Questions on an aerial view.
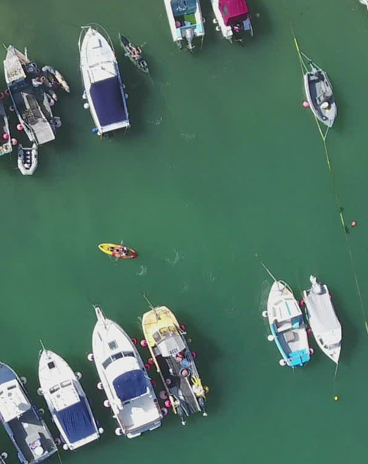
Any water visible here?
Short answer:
Yes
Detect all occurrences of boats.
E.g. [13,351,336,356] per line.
[99,243,139,259]
[37,346,100,449]
[0,361,56,464]
[92,305,164,438]
[210,0,253,45]
[164,0,203,52]
[17,144,38,174]
[3,46,55,144]
[304,63,335,127]
[44,69,70,99]
[300,276,345,364]
[118,33,149,73]
[143,305,208,425]
[266,276,313,367]
[80,22,130,141]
